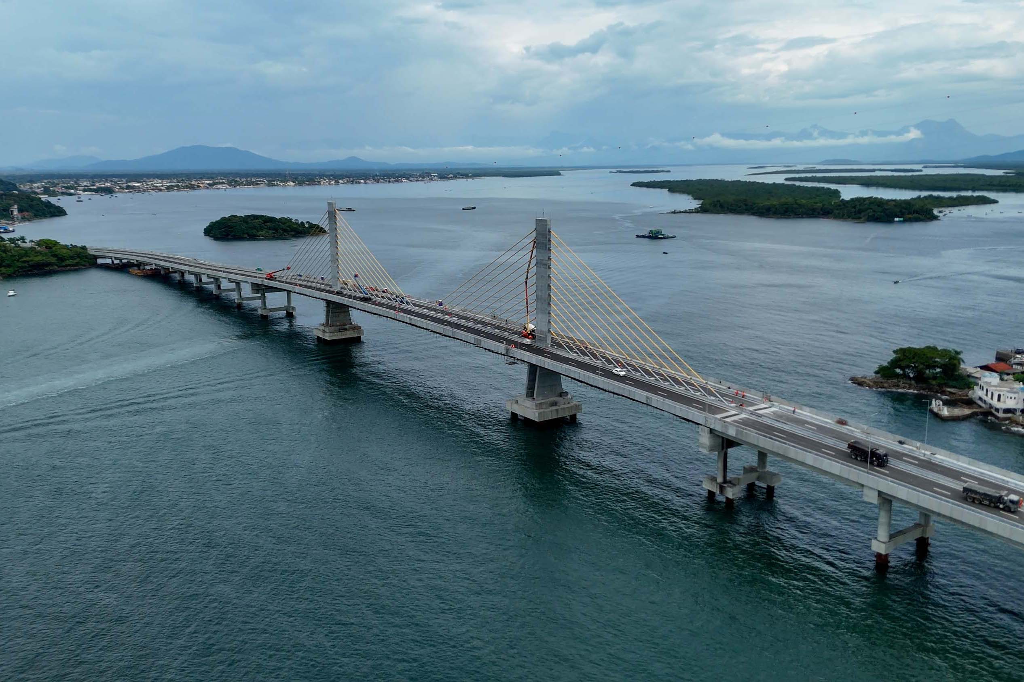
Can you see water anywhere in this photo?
Yes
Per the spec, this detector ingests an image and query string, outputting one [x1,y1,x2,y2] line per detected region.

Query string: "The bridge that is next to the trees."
[82,199,1024,566]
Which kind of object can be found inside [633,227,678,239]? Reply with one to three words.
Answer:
ship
